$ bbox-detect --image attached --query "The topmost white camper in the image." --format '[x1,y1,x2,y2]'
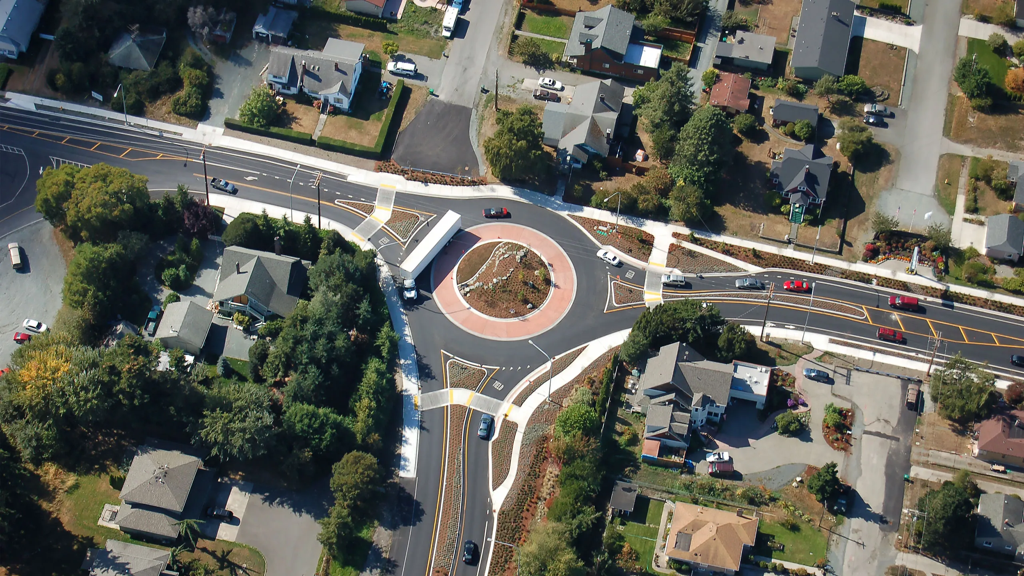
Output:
[444,3,458,40]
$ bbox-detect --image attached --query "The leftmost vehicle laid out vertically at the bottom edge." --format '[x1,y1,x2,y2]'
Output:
[464,541,476,565]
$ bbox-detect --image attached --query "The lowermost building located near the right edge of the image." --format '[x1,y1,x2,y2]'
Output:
[975,496,1024,557]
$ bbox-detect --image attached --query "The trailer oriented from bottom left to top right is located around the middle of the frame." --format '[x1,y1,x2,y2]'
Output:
[400,209,461,276]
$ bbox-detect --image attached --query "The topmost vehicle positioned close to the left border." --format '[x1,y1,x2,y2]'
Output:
[8,243,21,269]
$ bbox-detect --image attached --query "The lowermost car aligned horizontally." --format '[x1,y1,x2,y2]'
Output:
[205,506,234,521]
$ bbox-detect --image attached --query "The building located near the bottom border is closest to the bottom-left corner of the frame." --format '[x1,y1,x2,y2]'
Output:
[81,540,171,576]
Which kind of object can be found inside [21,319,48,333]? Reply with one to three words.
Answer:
car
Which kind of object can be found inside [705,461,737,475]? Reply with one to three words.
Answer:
vehicle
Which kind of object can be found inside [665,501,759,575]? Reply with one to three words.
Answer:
house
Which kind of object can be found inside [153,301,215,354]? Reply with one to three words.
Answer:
building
